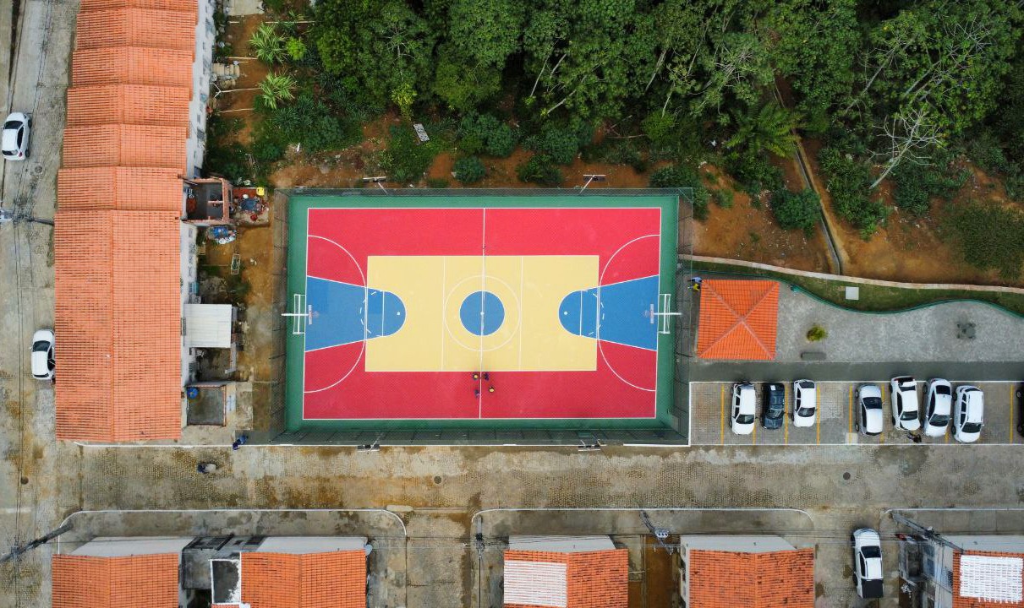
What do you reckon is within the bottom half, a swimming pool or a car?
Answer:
car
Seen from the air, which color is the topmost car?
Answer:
white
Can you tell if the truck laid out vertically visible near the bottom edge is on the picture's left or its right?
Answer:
right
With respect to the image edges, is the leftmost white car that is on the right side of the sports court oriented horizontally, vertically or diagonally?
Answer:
vertically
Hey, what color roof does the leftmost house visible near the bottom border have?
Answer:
orange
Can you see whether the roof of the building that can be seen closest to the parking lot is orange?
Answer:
Yes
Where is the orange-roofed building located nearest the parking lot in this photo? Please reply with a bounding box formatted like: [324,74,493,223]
[694,279,782,362]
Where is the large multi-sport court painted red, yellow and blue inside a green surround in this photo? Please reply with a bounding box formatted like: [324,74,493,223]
[285,195,678,431]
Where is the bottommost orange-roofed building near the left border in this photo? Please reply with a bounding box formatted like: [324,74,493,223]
[51,538,188,608]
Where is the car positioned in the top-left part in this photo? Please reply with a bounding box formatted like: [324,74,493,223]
[0,112,35,159]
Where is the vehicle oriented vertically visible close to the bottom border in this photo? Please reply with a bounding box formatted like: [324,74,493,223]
[853,529,886,600]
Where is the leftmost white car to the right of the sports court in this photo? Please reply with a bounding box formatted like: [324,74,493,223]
[730,380,758,435]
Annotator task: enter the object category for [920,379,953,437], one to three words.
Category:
car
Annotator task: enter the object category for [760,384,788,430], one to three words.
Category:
car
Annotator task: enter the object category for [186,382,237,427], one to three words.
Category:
shed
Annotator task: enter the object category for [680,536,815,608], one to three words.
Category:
house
